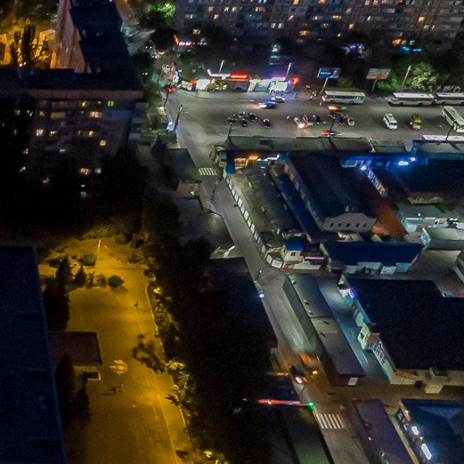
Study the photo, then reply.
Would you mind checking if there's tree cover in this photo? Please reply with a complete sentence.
Yes, the picture does contain tree cover.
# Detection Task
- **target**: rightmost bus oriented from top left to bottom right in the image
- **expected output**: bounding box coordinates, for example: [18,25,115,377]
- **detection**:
[436,102,464,128]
